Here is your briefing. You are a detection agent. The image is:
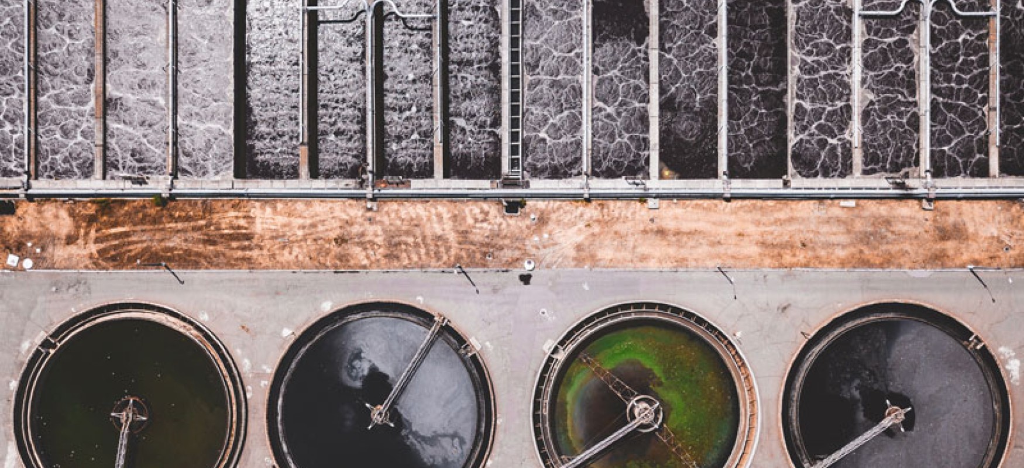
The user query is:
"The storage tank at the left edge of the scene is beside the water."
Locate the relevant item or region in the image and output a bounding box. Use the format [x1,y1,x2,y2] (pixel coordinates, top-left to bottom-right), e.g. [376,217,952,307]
[13,302,245,468]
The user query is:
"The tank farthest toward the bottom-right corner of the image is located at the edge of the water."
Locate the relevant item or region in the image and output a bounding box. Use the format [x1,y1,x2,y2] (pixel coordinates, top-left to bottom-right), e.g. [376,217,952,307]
[782,301,1011,468]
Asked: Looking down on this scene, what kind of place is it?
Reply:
industrial area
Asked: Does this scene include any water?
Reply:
Yes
